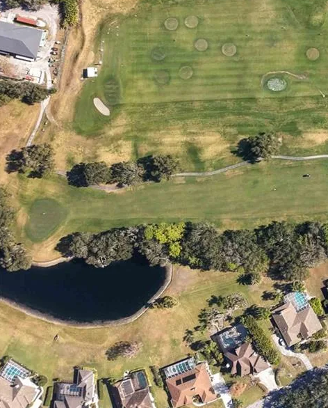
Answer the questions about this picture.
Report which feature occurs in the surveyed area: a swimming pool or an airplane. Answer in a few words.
swimming pool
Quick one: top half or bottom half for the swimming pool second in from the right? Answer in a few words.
bottom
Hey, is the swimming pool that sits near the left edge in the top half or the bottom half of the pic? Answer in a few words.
bottom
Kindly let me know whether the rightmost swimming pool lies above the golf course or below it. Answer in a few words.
below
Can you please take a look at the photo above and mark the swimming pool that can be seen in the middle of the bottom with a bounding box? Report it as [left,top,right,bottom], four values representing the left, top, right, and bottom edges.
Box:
[165,358,195,378]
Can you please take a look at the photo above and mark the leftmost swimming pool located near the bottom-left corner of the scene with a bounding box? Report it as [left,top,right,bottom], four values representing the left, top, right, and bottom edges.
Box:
[0,360,29,381]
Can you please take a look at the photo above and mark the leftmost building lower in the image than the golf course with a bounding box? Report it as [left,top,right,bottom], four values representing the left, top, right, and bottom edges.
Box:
[0,359,42,408]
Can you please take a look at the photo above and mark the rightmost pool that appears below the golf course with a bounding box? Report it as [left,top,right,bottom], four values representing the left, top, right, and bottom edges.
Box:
[285,290,310,312]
